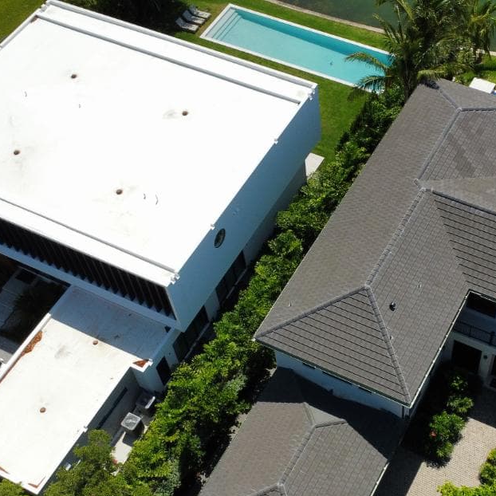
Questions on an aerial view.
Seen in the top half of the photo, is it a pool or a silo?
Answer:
pool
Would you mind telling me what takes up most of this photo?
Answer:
buildings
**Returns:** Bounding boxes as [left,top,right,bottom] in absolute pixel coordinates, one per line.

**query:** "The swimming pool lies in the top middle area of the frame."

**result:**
[206,7,388,89]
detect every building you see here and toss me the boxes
[0,0,320,351]
[254,73,496,444]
